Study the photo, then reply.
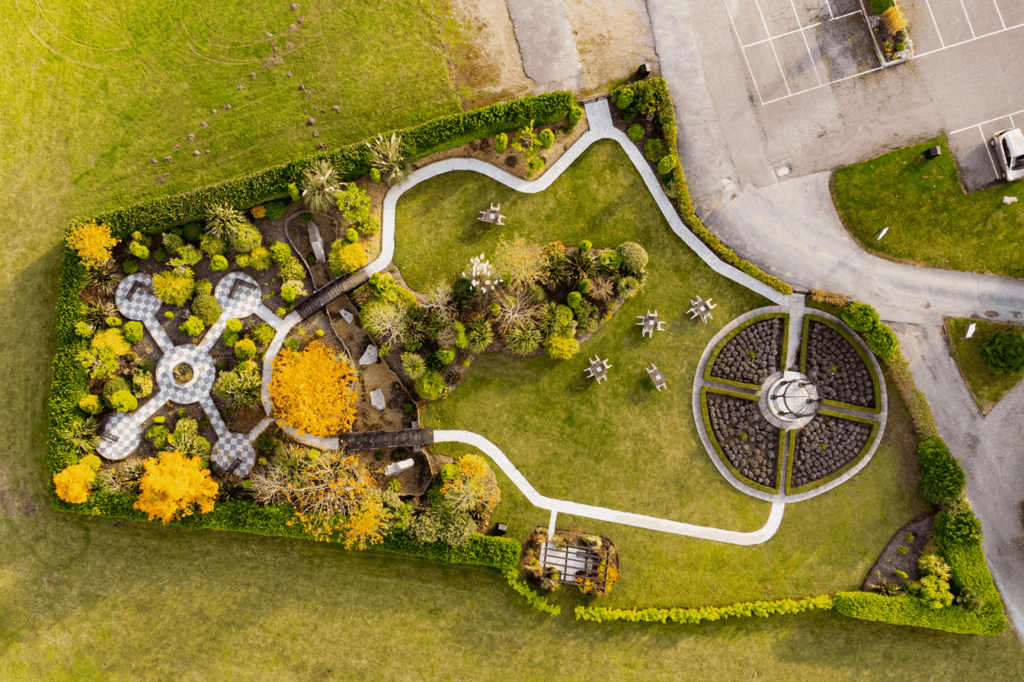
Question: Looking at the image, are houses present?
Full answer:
No, the picture doesn't show any house.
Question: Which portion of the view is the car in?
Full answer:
The car is in the top right part of the image.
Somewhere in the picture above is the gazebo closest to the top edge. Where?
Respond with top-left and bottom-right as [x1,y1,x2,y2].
[761,369,825,430]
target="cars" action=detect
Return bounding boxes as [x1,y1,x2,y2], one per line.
[989,127,1024,180]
